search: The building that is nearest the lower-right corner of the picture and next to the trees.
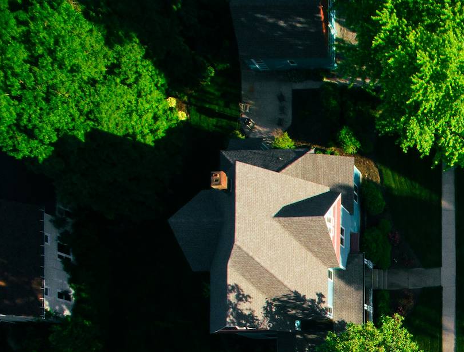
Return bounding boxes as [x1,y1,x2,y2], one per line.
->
[169,139,385,352]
